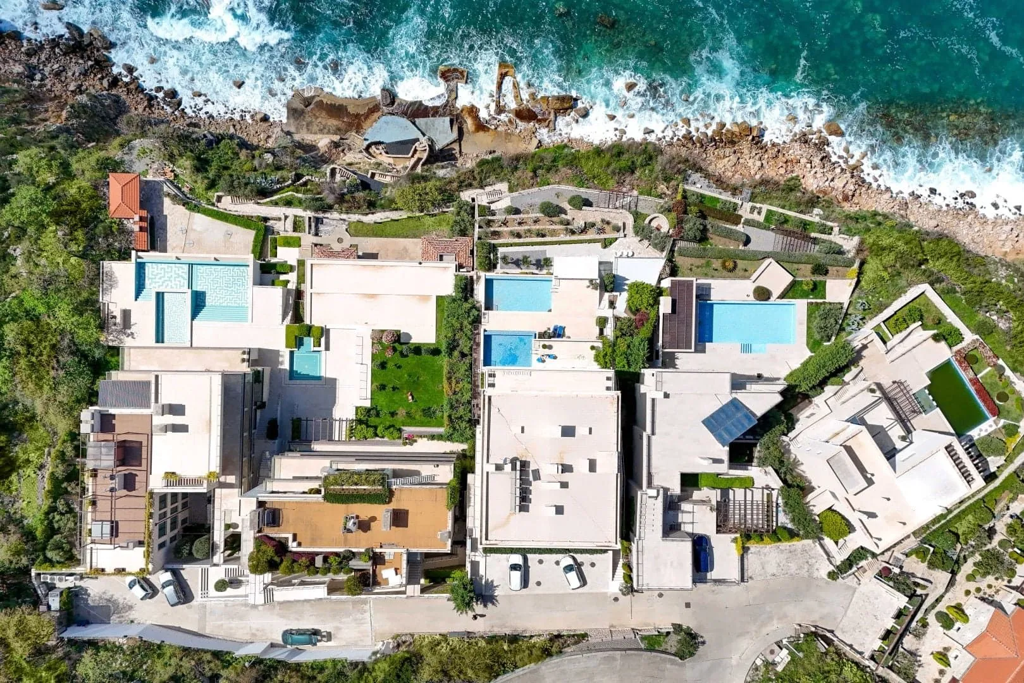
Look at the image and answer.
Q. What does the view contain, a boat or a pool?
pool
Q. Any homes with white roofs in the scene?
Yes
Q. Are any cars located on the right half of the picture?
Yes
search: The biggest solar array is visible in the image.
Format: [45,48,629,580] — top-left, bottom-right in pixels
[700,397,758,447]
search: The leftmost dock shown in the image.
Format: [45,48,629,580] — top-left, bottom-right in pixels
[439,65,469,114]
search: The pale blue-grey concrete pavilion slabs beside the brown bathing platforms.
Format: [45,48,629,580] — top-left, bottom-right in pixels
[364,116,462,174]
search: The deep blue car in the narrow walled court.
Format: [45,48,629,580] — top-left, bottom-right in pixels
[693,533,712,573]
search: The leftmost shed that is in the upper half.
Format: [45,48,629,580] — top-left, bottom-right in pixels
[108,172,155,252]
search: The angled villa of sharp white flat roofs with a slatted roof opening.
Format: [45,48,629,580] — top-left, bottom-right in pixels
[784,386,987,559]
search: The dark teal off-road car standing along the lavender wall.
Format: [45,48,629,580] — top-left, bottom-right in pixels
[282,626,322,647]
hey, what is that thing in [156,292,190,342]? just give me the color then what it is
white swimming pool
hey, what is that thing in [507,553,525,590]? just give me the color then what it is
white car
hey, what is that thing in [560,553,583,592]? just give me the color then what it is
white car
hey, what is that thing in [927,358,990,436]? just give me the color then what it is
green swimming pool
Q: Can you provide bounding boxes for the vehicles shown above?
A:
[560,553,583,592]
[127,574,157,604]
[282,626,322,647]
[693,533,712,573]
[158,566,186,609]
[507,553,525,590]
